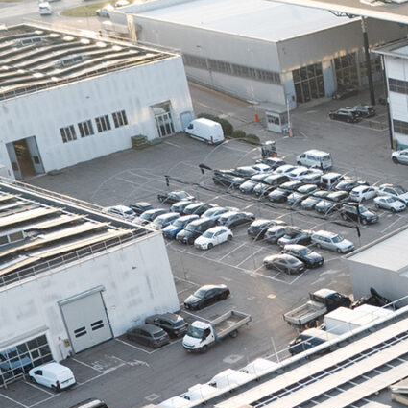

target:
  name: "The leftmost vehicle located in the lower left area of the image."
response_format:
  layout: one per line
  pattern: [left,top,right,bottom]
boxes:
[26,361,79,392]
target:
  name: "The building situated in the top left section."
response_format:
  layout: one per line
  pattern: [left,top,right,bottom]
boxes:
[0,13,197,186]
